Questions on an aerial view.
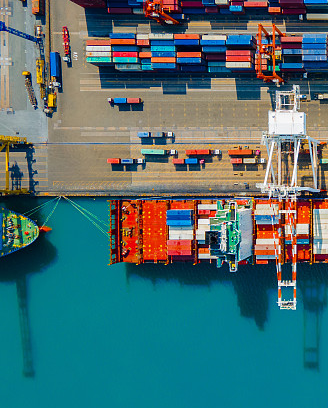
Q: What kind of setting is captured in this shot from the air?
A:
port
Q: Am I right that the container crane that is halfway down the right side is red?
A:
No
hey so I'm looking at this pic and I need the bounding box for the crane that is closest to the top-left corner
[0,27,45,84]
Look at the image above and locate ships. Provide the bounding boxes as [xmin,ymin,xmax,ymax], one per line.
[0,206,52,257]
[109,196,328,274]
